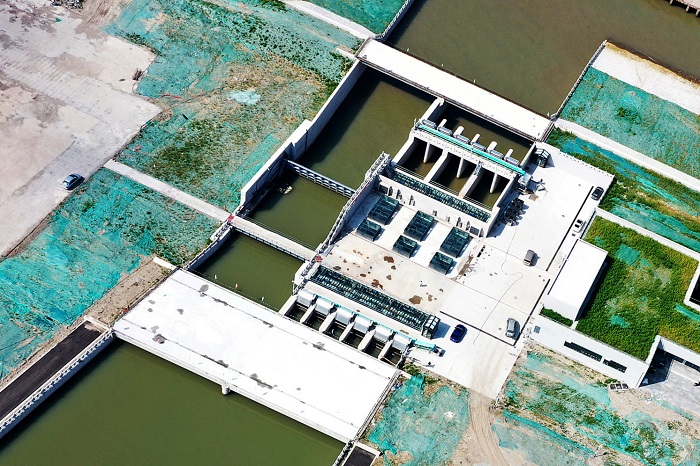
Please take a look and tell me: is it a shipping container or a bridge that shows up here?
bridge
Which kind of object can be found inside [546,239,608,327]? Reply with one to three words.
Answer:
building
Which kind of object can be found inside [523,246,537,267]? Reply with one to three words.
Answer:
car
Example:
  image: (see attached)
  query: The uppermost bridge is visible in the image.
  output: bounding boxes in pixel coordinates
[358,36,553,145]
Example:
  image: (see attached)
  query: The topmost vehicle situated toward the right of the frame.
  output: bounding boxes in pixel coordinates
[590,184,605,201]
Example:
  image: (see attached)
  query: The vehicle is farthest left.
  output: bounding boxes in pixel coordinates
[62,174,83,187]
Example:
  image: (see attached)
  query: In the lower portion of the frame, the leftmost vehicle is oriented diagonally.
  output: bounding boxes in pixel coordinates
[450,323,466,342]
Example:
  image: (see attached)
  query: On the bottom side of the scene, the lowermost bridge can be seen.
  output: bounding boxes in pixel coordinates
[114,269,399,444]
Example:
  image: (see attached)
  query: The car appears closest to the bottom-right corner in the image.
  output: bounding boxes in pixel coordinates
[506,316,518,338]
